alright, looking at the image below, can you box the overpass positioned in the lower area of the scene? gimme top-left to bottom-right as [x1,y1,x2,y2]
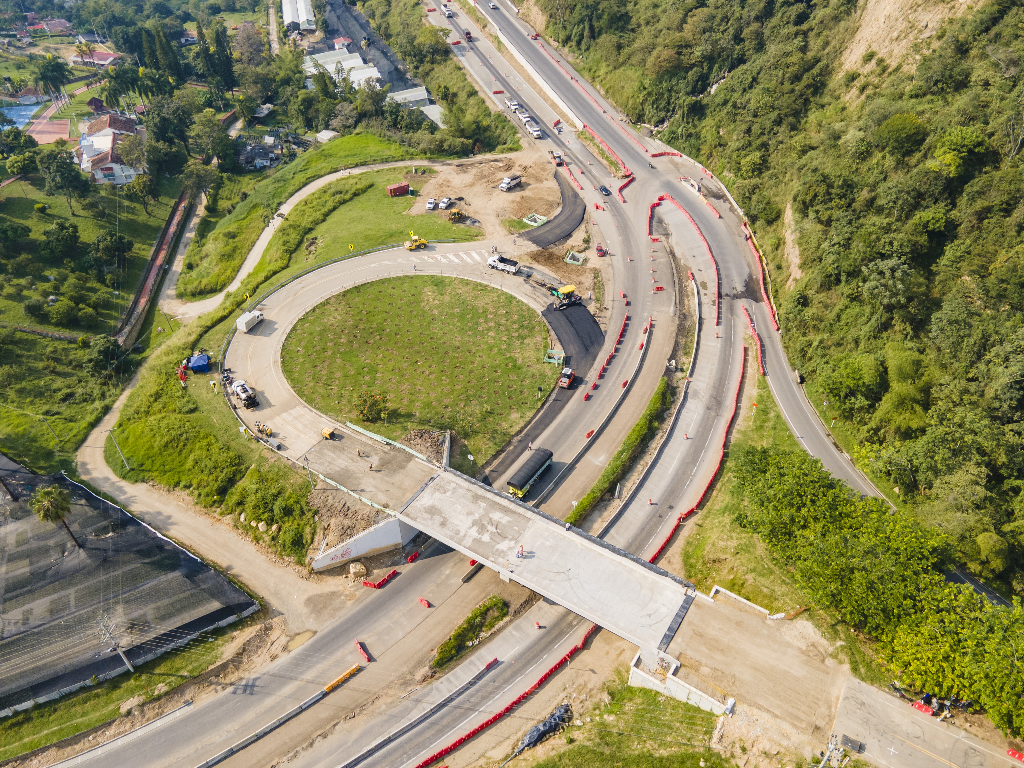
[310,427,697,657]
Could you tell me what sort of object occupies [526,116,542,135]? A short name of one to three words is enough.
vehicle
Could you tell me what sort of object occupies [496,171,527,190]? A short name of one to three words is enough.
vehicle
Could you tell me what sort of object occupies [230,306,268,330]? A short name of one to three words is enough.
truck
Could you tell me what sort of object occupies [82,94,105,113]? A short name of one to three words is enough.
gazebo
